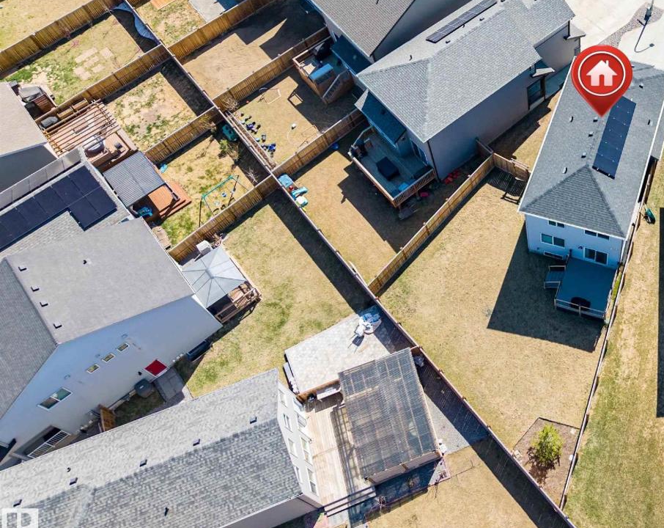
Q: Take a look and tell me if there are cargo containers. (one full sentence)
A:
No, the photo shows no cargo container.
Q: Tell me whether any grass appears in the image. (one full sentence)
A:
Yes, there's grass in this view.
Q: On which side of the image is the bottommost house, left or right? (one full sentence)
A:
The bottommost house appears in the left half of the scene.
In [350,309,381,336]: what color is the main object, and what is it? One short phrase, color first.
white umbrella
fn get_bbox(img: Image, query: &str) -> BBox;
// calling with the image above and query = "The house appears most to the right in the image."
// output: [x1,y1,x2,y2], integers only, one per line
[519,45,664,270]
